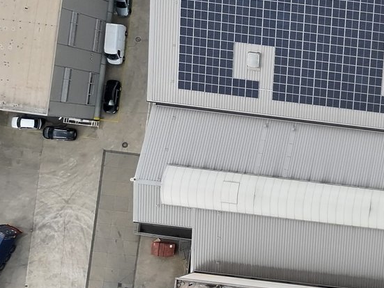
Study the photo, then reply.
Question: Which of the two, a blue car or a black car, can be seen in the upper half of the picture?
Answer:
black car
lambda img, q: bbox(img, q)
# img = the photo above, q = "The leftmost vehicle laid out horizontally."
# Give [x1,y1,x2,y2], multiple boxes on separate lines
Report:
[11,115,44,130]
